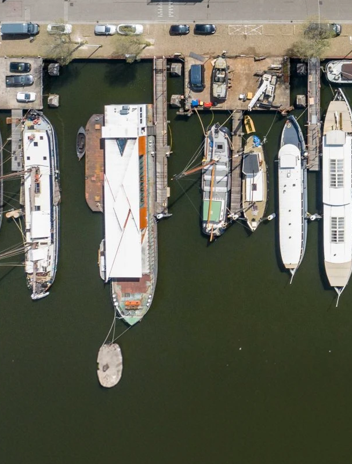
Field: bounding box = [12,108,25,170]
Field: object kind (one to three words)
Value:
pier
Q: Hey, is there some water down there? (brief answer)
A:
Yes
